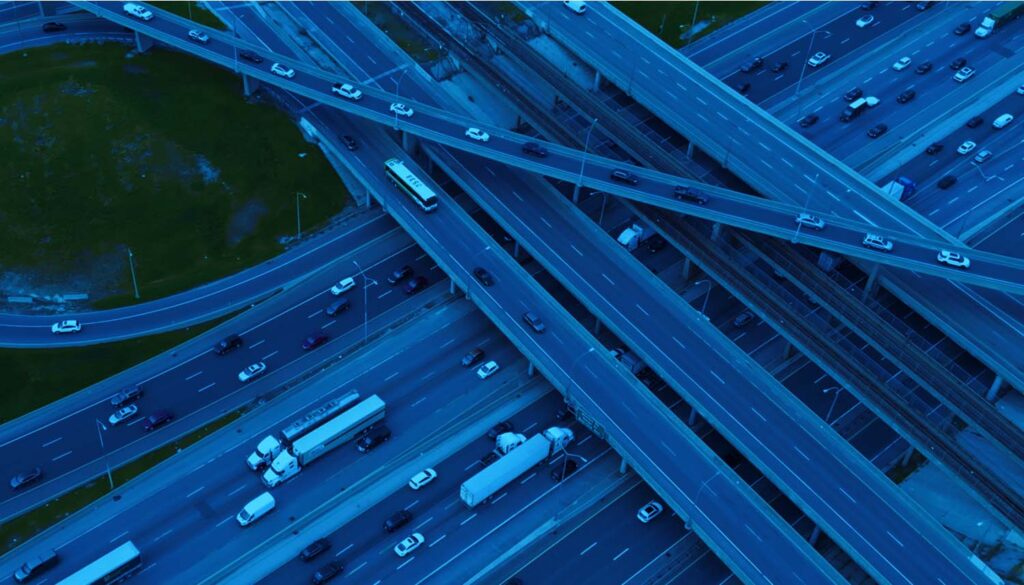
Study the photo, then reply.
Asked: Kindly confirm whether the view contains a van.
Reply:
Yes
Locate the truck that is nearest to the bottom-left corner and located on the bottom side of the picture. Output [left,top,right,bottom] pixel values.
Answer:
[15,547,60,582]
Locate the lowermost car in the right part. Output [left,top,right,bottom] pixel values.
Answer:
[636,501,664,524]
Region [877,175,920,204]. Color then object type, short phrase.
blue truck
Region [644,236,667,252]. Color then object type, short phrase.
black car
